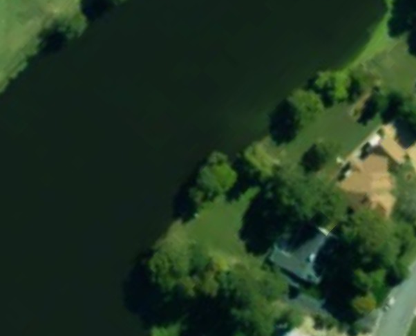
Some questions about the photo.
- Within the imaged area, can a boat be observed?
No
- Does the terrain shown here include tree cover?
Yes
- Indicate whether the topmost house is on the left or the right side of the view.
right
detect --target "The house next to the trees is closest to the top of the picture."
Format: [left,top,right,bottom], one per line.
[335,121,413,219]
